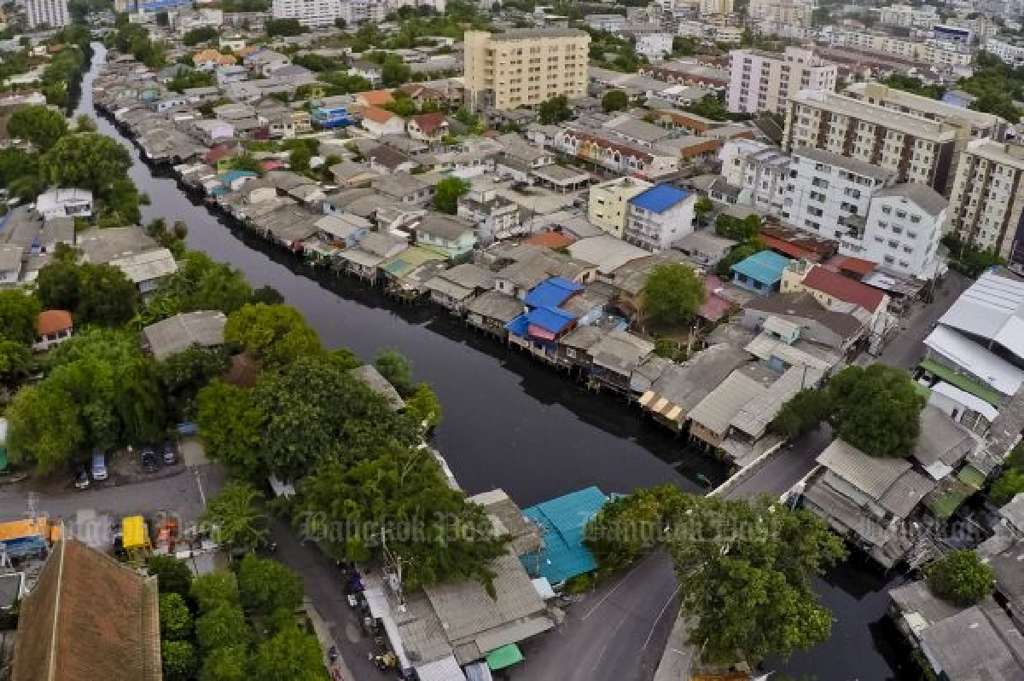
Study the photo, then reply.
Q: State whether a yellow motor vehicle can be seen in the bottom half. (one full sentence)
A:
Yes, in the bottom half there is a yellow motor vehicle.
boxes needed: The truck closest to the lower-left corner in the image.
[116,516,144,556]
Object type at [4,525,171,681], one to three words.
building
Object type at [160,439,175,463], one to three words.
car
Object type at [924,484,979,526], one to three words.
shed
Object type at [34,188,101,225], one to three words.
house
